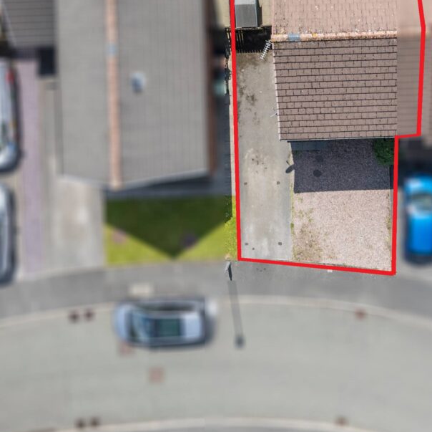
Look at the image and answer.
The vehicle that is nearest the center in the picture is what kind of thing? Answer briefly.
automobile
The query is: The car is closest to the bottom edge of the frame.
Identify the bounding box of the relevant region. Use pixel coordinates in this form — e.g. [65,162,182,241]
[114,297,217,349]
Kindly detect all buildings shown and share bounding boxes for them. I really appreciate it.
[56,0,215,191]
[234,0,258,29]
[273,0,427,142]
